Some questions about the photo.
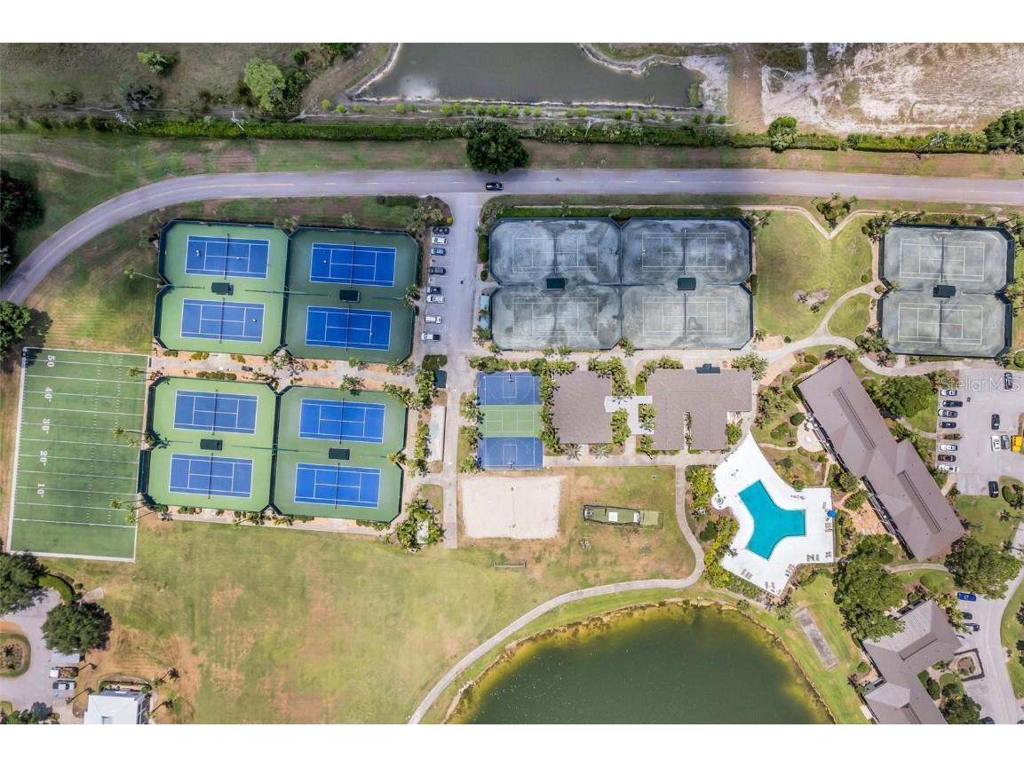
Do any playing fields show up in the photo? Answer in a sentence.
Yes, there's a playing field here.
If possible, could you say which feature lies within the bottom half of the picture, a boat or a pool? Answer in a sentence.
The feature located within the bottom half of the picture is a pool.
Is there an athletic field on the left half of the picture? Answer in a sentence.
Yes, looking on the left half of the picture, one can make out an athletic field.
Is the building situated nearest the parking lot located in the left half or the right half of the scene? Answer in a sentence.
You can find the building situated nearest the parking lot on the right side of the picture.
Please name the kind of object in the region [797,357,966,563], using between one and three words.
building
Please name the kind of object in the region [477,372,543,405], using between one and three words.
basketball court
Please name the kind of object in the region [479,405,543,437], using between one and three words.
sports court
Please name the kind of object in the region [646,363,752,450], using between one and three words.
building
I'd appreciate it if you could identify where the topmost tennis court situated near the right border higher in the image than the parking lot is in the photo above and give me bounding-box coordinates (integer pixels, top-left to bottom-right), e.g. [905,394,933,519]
[886,225,1005,295]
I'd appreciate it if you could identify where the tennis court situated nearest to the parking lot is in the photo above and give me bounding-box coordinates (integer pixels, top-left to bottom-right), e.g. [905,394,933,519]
[884,289,1003,357]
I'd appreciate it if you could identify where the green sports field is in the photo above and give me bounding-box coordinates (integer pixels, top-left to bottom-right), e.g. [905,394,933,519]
[5,347,150,566]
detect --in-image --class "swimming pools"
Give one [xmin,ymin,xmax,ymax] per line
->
[712,432,832,596]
